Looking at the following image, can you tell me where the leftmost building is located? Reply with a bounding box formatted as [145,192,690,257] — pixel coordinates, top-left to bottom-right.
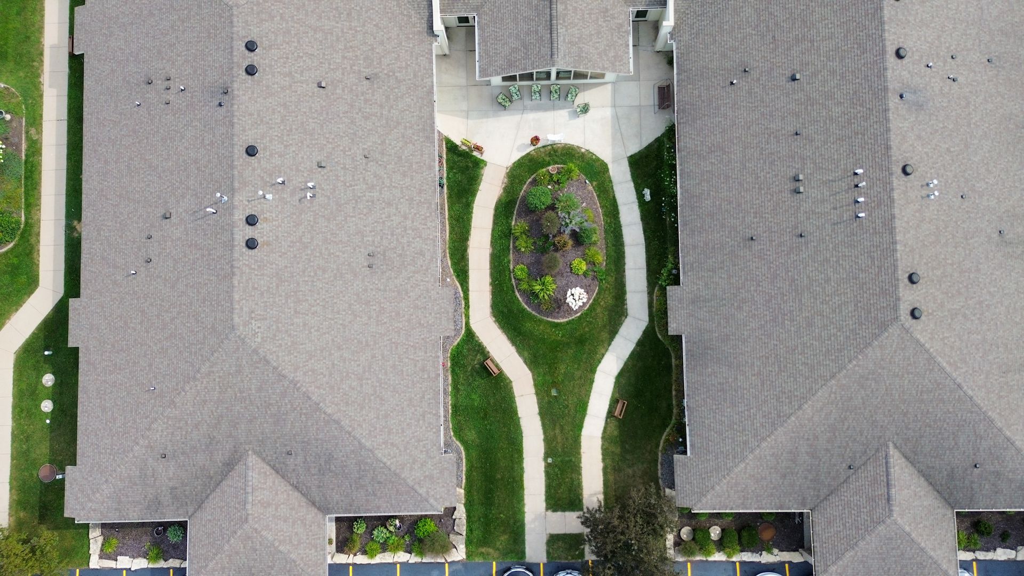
[65,0,458,576]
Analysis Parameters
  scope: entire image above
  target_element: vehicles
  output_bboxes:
[957,568,975,576]
[755,571,782,576]
[552,568,580,576]
[502,564,535,576]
